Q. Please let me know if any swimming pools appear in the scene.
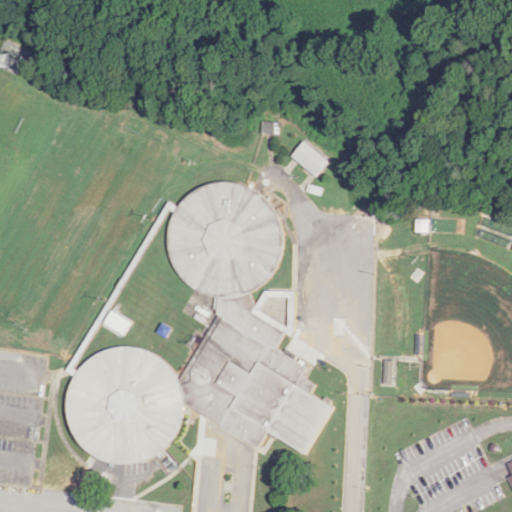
No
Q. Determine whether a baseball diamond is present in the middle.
No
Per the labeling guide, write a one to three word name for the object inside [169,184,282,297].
building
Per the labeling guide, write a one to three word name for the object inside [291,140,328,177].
barn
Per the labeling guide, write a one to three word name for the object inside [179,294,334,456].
building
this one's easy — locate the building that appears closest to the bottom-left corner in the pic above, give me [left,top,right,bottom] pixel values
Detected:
[68,348,184,463]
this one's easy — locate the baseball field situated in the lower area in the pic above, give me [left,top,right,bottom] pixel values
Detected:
[428,320,495,383]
